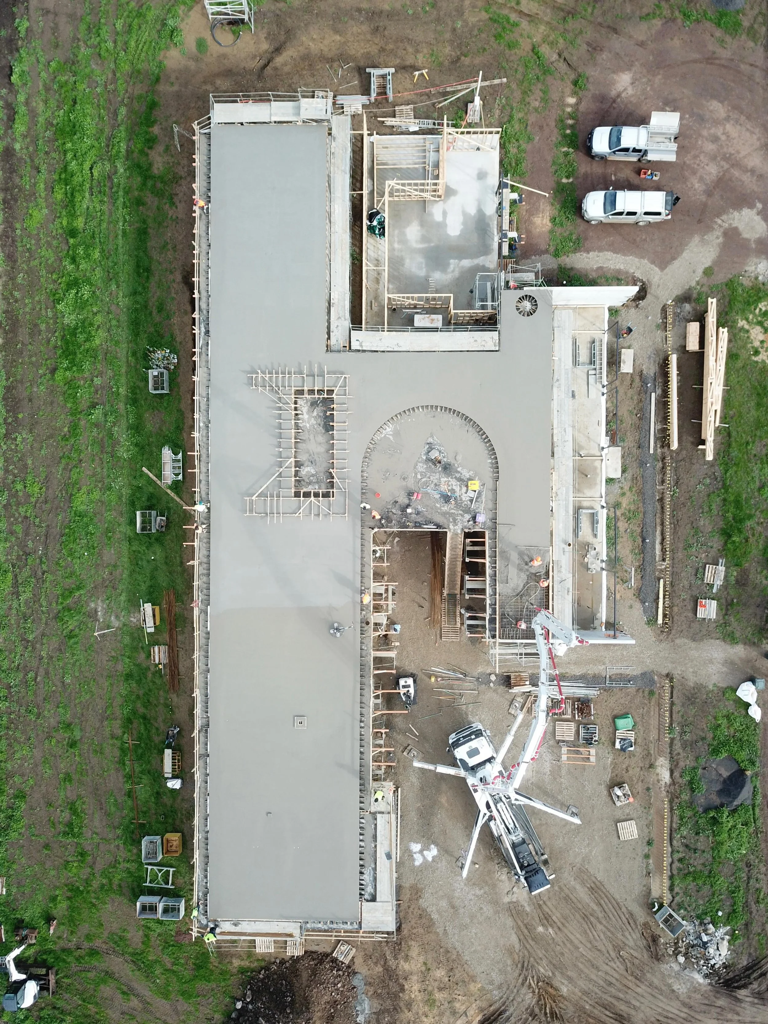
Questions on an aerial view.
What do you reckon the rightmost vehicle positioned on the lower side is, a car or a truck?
truck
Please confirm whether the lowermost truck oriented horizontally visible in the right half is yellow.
No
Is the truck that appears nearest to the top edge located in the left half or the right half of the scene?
right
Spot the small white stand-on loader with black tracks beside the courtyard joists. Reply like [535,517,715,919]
[396,674,417,711]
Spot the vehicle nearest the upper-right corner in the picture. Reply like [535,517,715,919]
[585,106,687,161]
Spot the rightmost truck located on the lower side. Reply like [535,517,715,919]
[411,600,590,895]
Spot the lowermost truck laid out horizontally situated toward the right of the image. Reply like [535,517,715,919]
[580,183,679,224]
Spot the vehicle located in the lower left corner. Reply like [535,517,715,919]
[2,935,57,1010]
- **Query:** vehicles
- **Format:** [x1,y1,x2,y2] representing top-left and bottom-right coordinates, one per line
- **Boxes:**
[585,106,687,161]
[396,674,417,711]
[580,183,679,224]
[2,935,57,1010]
[411,600,590,895]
